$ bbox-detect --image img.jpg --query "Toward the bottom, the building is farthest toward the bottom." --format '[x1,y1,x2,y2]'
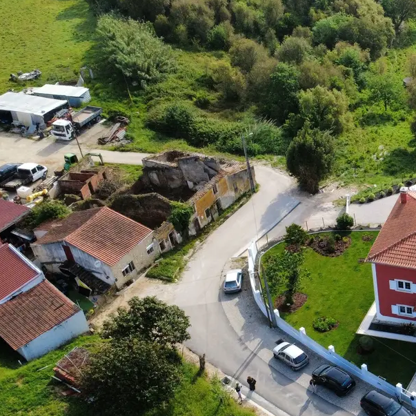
[0,277,88,366]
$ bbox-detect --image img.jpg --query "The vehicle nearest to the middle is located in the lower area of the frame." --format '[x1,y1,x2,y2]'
[220,267,244,299]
